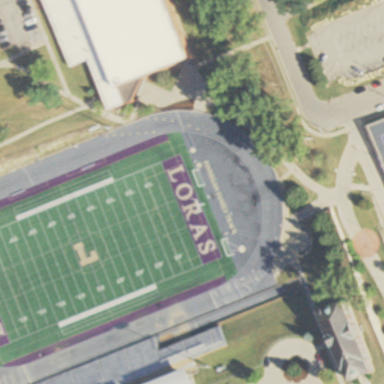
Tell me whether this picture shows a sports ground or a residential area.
sports ground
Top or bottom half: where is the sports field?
bottom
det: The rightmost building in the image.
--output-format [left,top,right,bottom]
[318,302,372,382]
